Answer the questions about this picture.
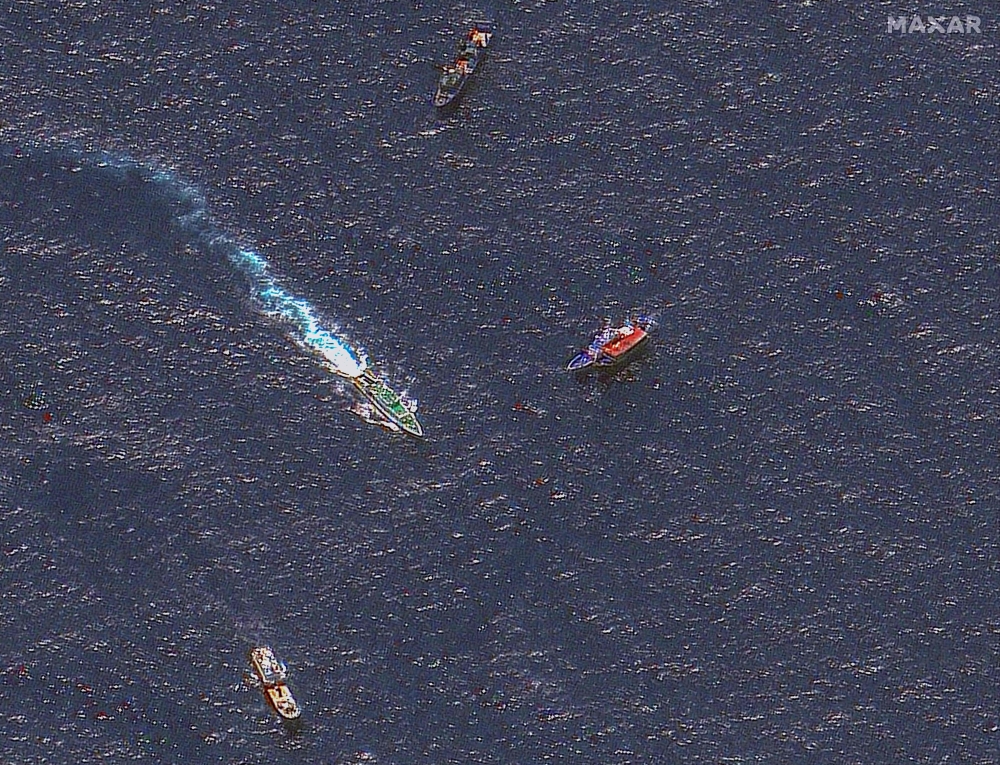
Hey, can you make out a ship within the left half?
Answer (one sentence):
Yes, the scene does show a ship within the left half.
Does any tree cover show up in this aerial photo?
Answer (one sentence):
No, the scene doesn't show any tree cover.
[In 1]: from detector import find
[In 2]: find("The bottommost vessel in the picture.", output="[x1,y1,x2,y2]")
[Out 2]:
[251,646,301,719]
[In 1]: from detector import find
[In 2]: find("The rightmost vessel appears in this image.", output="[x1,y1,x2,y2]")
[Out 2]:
[567,312,656,371]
